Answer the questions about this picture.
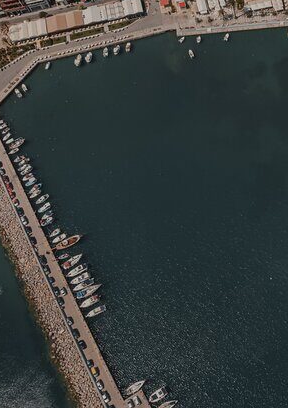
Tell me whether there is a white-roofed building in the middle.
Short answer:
No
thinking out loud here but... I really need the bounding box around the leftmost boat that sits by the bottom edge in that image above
[125,380,145,396]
